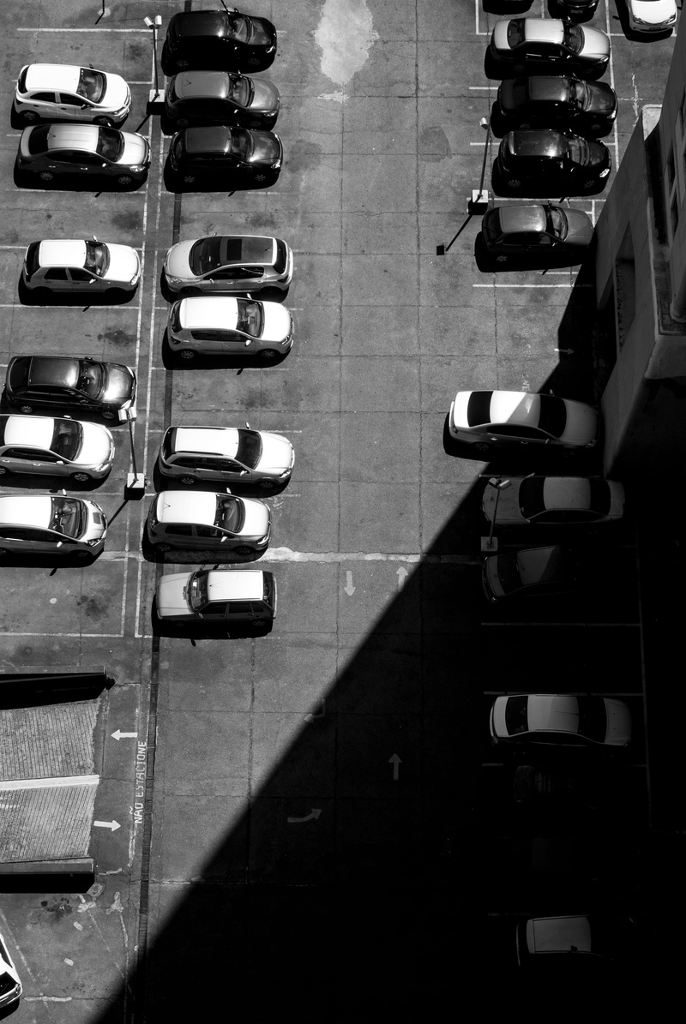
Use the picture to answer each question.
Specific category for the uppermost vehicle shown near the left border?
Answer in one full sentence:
It looks like the uppermost vehicle shown near the left border is a car.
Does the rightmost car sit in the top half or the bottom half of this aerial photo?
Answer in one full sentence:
You can find the rightmost car in the top half.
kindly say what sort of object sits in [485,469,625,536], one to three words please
car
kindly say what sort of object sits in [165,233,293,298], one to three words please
car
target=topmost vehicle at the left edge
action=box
[16,64,133,125]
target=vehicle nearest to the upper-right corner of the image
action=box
[626,0,677,29]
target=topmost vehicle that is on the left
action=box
[166,0,278,68]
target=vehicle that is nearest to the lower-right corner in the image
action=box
[516,911,652,981]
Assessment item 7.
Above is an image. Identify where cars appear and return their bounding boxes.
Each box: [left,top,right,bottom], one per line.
[19,124,153,185]
[149,490,272,554]
[0,907,23,1012]
[16,64,133,125]
[0,492,109,558]
[170,123,283,183]
[0,415,116,481]
[485,469,625,536]
[162,425,296,489]
[165,233,293,298]
[449,390,601,460]
[24,237,143,298]
[480,196,592,259]
[498,129,611,189]
[500,754,635,822]
[170,294,293,359]
[490,692,631,759]
[166,68,281,129]
[8,354,138,419]
[516,911,652,981]
[166,0,278,68]
[155,565,278,628]
[491,16,610,75]
[626,0,677,29]
[500,72,617,132]
[475,544,601,612]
